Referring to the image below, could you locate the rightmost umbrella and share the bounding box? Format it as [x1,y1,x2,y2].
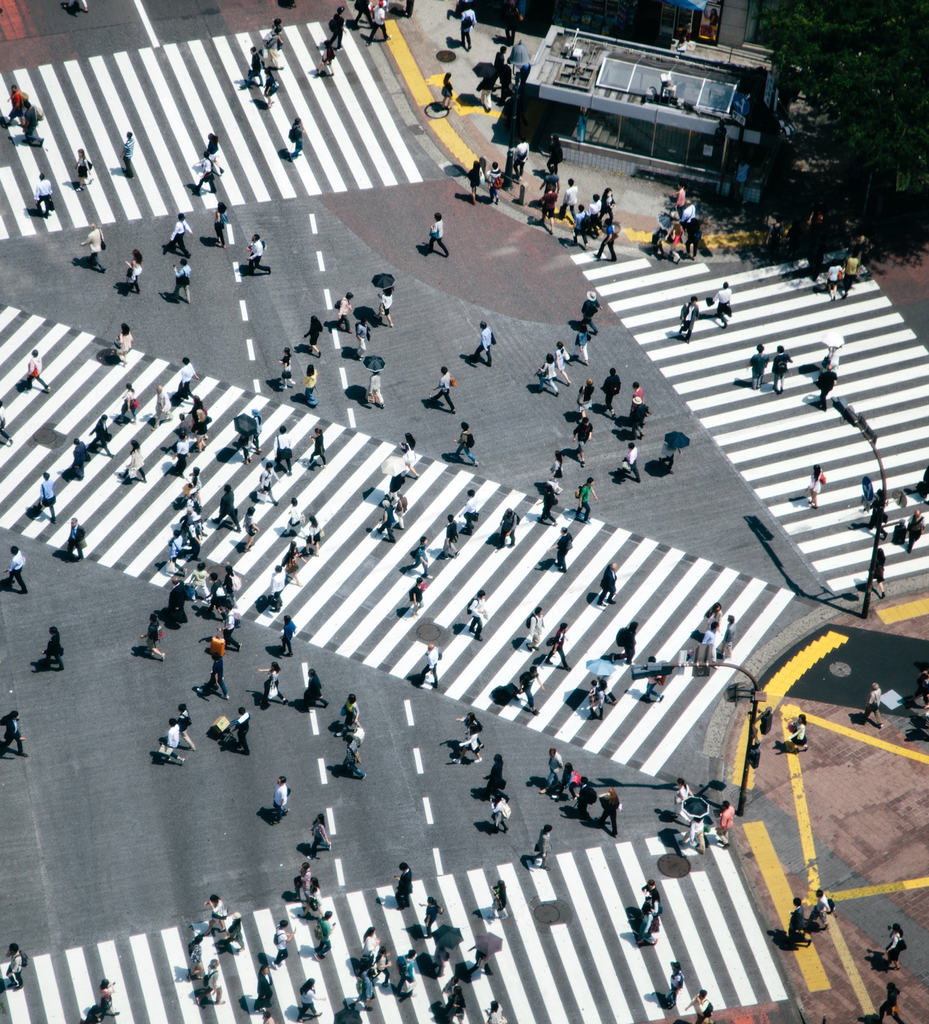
[821,335,846,351]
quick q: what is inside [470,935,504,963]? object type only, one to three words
umbrella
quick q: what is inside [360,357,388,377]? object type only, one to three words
umbrella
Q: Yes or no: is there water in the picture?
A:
No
